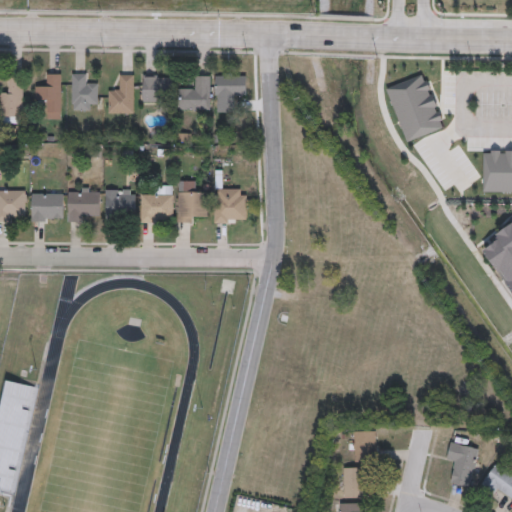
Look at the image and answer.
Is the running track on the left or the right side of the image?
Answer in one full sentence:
The running track appears in the left half of the scene.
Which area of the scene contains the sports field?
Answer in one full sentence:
Look in the bottom left portion of the view to spot the sports field.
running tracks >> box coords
[12,276,200,512]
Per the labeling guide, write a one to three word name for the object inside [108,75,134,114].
house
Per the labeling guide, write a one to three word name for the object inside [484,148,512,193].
building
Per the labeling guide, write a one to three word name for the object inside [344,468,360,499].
house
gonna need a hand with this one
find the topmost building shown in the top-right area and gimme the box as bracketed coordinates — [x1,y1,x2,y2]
[388,74,443,141]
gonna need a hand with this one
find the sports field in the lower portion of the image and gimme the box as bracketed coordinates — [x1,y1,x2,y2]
[40,340,173,512]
